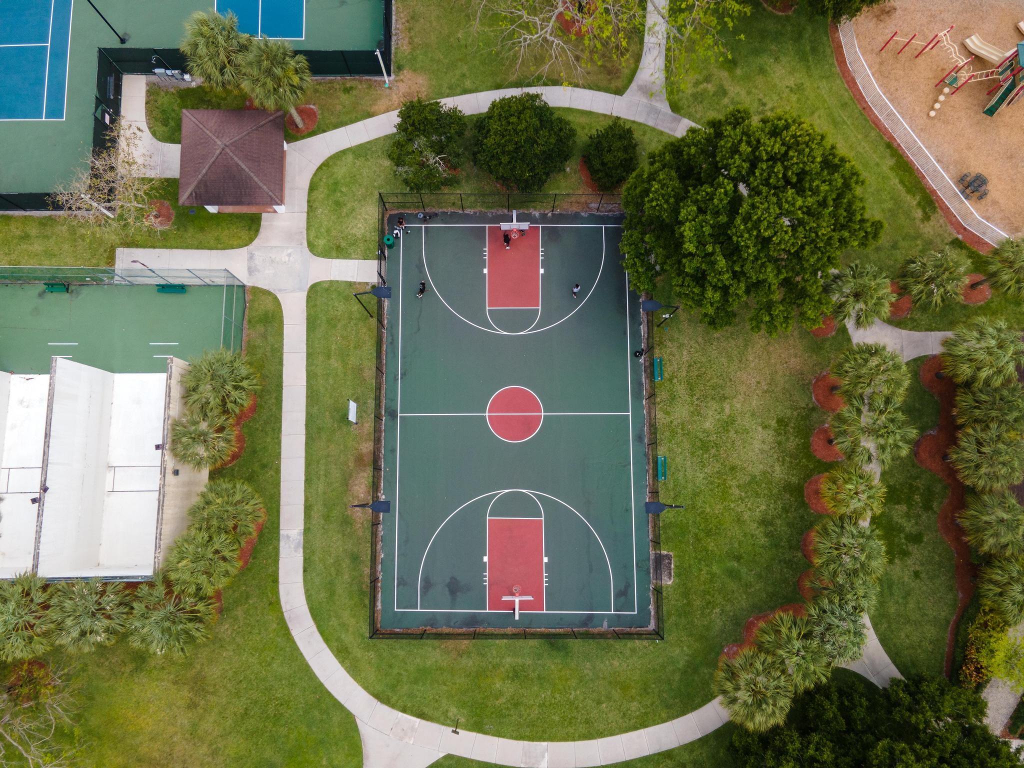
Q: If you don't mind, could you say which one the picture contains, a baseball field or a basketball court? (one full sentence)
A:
Of the two, only a basketball court appears.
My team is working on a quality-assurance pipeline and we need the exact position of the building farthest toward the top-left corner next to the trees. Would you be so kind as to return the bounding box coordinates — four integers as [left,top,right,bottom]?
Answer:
[178,109,286,213]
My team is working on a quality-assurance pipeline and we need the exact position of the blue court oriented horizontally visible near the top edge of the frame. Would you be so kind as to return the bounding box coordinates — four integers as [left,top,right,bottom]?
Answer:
[215,0,304,39]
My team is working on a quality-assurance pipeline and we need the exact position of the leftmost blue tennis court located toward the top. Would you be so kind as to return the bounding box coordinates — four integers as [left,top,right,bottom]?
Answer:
[0,0,73,121]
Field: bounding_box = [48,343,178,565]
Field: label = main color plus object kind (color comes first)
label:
white sports court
